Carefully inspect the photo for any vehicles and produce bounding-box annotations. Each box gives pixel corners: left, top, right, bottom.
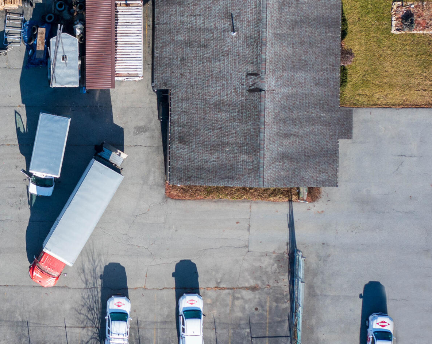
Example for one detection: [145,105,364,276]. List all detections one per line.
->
[103,293,134,344]
[362,312,398,344]
[175,291,207,344]
[26,141,130,291]
[20,112,71,200]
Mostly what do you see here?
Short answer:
paved ground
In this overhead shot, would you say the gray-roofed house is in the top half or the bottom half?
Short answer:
top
